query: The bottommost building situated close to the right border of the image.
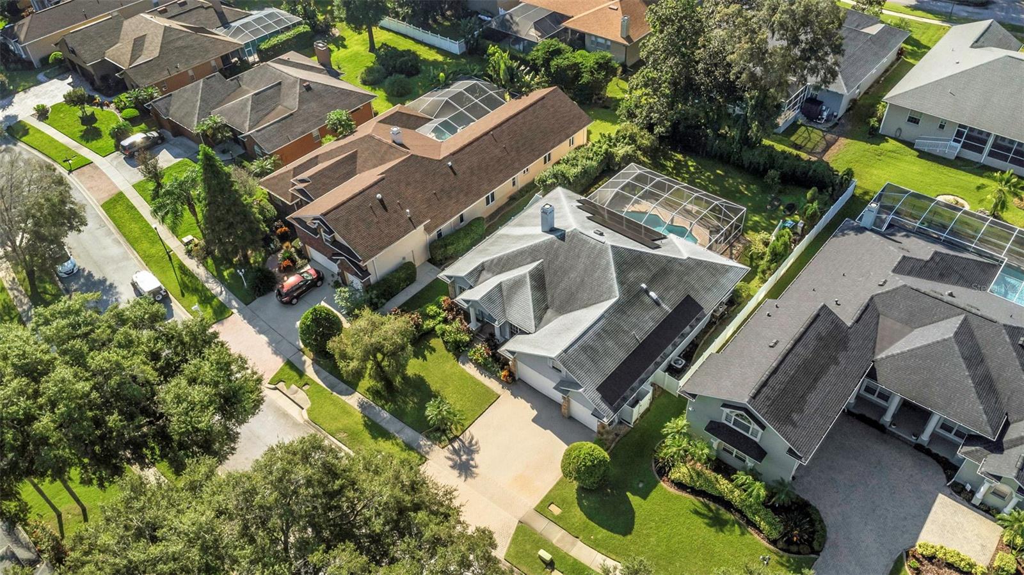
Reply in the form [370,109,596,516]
[678,193,1024,520]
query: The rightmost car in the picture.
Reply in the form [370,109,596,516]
[270,265,320,297]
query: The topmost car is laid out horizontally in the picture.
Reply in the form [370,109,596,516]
[115,129,165,155]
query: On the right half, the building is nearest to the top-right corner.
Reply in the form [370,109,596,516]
[882,18,1024,172]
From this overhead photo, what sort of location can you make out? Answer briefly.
residential area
